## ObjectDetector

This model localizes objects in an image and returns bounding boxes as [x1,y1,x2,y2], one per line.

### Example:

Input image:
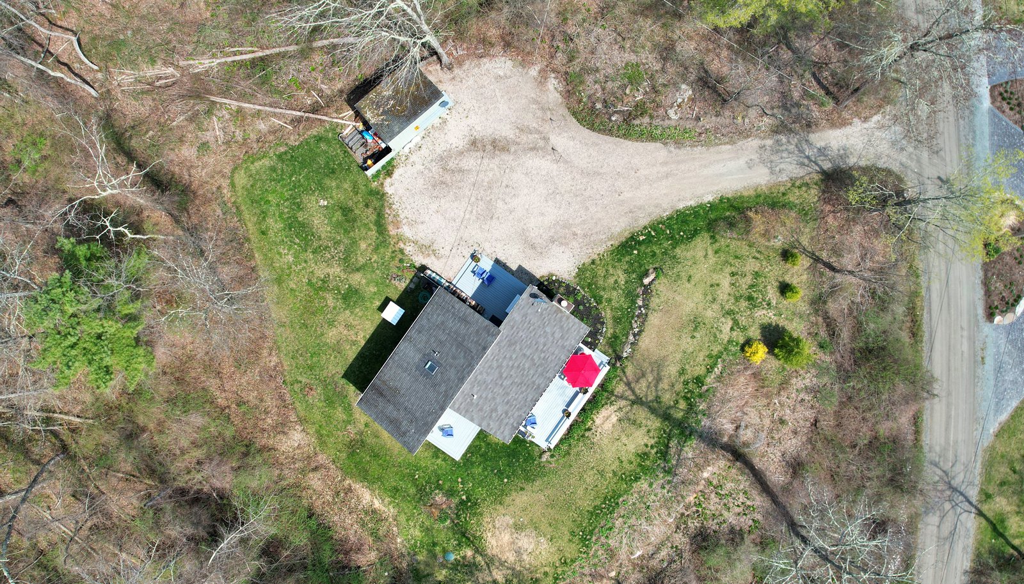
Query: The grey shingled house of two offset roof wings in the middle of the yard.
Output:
[355,284,591,453]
